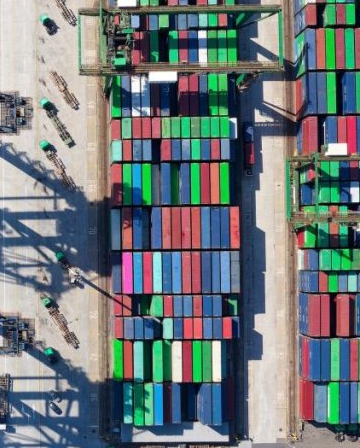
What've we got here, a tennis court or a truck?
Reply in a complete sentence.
The one in the frame is a truck.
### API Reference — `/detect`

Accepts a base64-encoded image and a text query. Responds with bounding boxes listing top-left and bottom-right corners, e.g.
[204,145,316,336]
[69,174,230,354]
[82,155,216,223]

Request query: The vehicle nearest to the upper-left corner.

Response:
[39,12,57,34]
